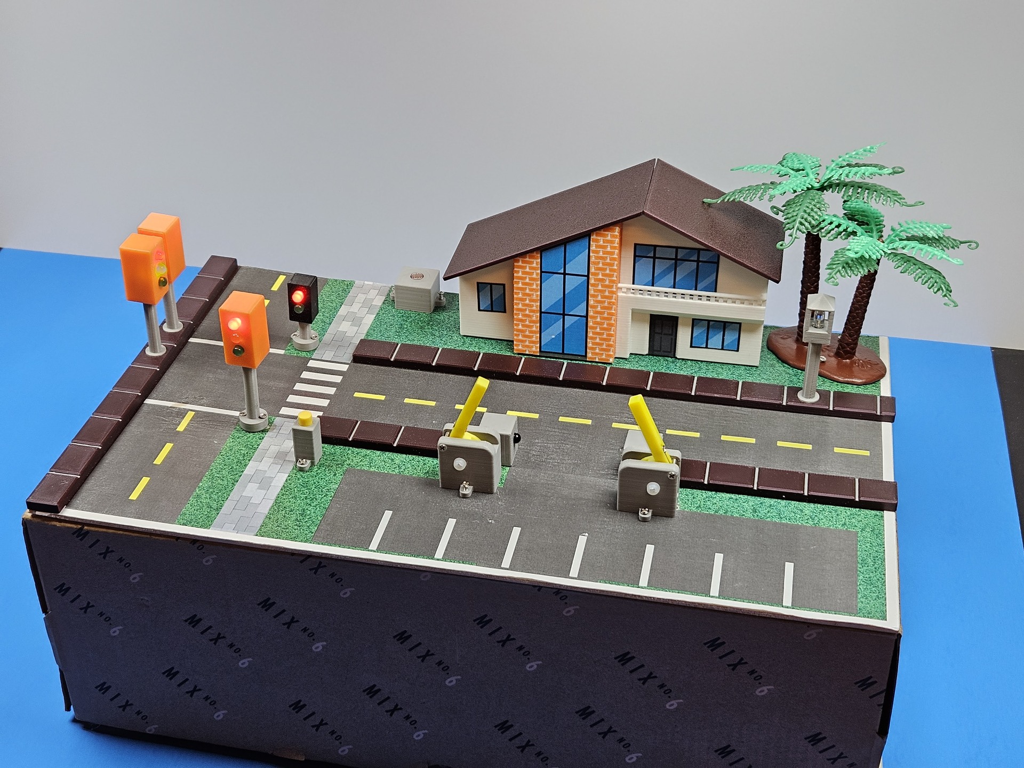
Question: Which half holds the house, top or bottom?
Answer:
top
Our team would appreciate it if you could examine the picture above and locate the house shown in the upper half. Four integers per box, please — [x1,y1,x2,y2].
[442,162,786,367]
